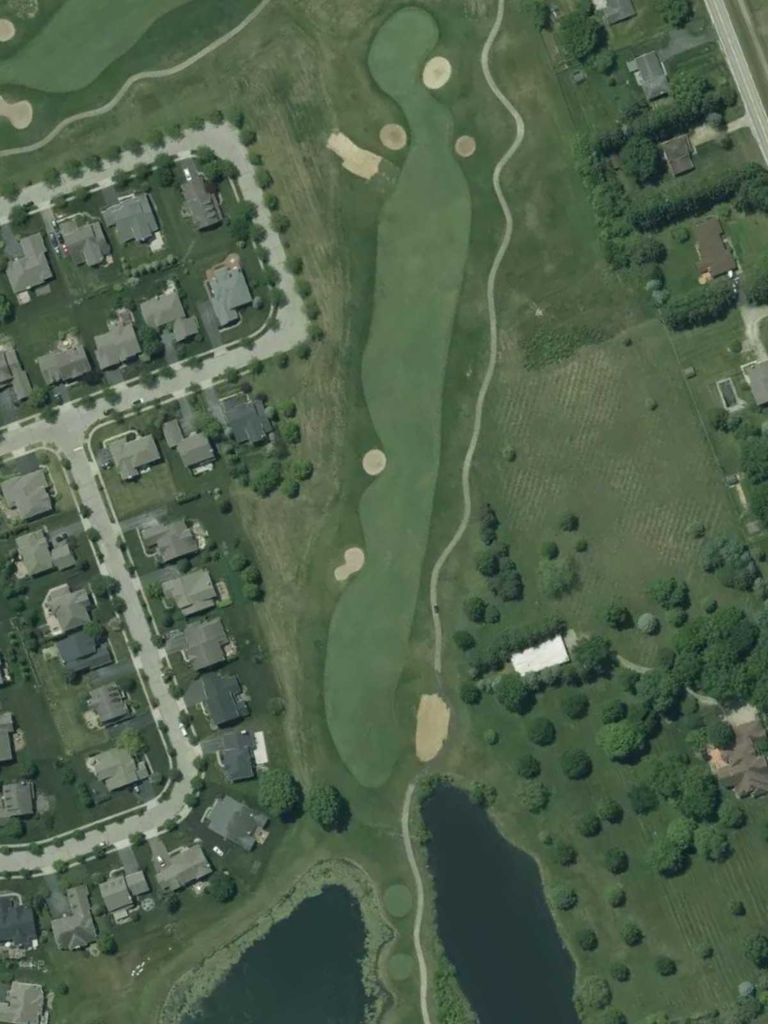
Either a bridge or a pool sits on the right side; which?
pool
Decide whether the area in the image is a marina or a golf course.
golf course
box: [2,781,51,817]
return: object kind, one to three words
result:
house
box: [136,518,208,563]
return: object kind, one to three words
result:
house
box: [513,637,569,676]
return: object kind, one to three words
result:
barn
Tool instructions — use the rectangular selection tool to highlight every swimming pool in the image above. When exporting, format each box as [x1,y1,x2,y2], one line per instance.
[717,377,747,413]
